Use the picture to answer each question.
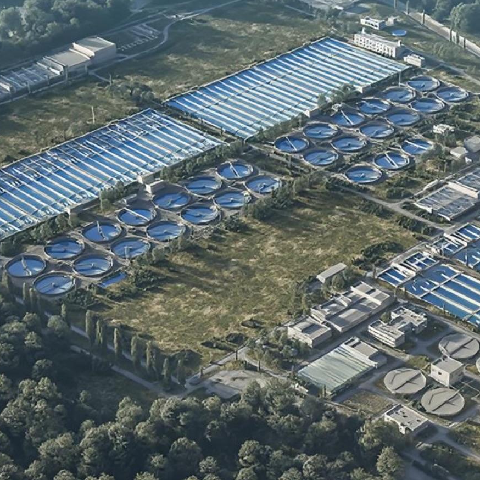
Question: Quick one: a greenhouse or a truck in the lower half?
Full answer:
You can see a greenhouse in the lower half.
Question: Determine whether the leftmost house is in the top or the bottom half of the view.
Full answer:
It is in the top half that the leftmost house appears.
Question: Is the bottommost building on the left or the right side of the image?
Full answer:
The bottommost building sits on the right side.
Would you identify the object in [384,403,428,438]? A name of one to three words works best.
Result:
building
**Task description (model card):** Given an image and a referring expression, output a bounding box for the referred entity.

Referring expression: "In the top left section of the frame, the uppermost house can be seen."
[42,35,115,78]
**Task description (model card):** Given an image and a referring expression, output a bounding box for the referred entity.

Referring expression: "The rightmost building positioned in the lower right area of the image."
[431,355,464,386]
